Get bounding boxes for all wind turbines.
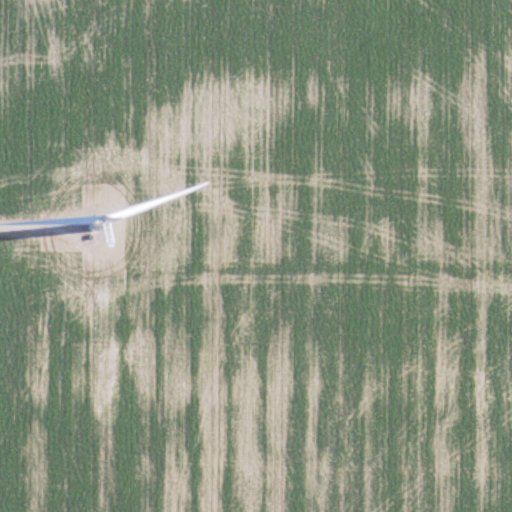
[0,182,209,247]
